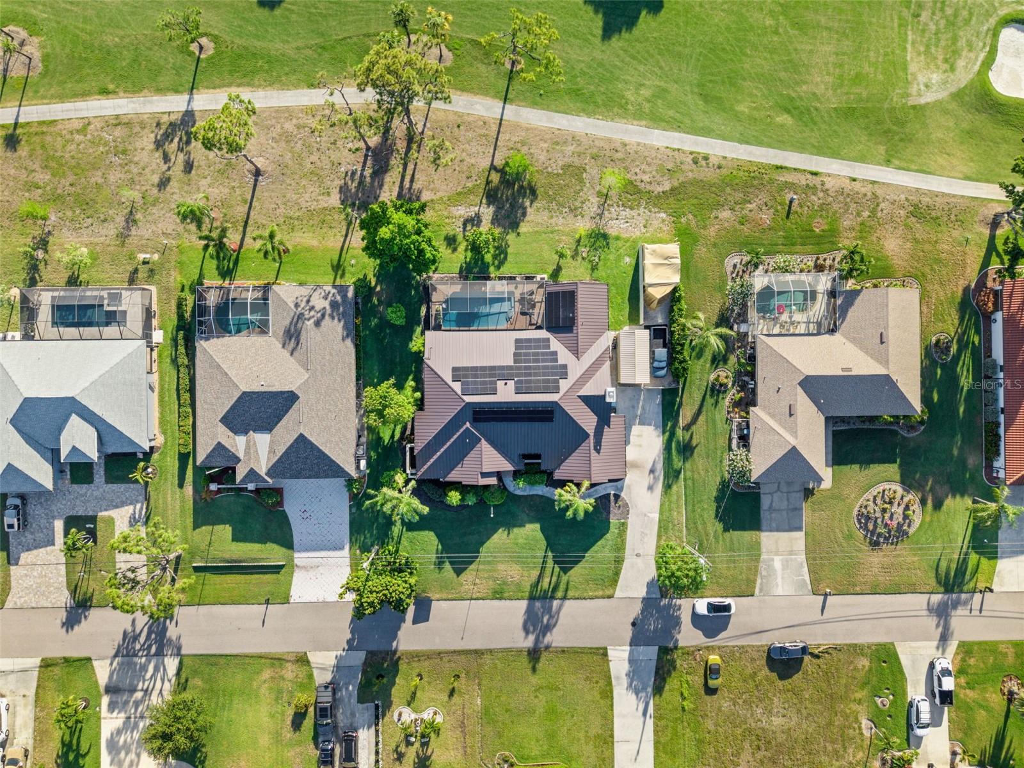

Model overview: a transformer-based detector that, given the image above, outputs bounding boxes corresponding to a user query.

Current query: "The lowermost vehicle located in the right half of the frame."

[908,694,930,735]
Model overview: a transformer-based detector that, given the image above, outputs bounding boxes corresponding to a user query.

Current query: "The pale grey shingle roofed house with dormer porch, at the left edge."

[0,340,153,491]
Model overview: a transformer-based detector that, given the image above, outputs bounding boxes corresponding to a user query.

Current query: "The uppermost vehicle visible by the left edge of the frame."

[3,493,27,531]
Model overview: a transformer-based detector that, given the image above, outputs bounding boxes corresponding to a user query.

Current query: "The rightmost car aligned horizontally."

[767,640,807,659]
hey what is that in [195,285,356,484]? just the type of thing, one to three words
house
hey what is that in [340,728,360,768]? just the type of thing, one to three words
car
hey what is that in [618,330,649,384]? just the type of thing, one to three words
shed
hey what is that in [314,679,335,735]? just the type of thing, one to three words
truck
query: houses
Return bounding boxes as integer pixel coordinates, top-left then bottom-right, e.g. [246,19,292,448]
[195,285,356,484]
[414,281,626,485]
[747,285,920,483]
[0,340,153,491]
[988,278,1024,485]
